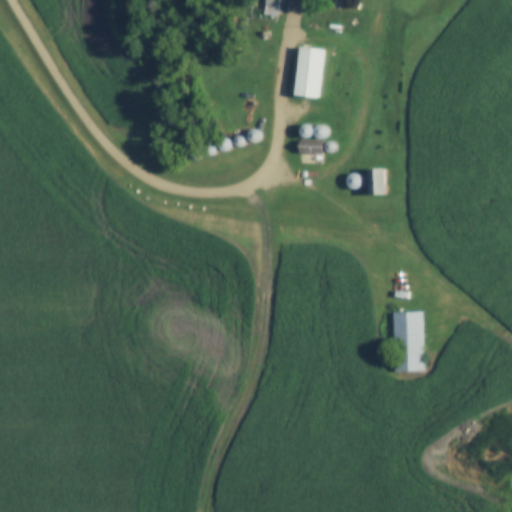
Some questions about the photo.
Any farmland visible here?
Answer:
Yes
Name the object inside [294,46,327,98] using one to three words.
shed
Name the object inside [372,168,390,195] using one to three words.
shed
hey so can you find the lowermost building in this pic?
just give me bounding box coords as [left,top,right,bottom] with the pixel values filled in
[392,311,427,372]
